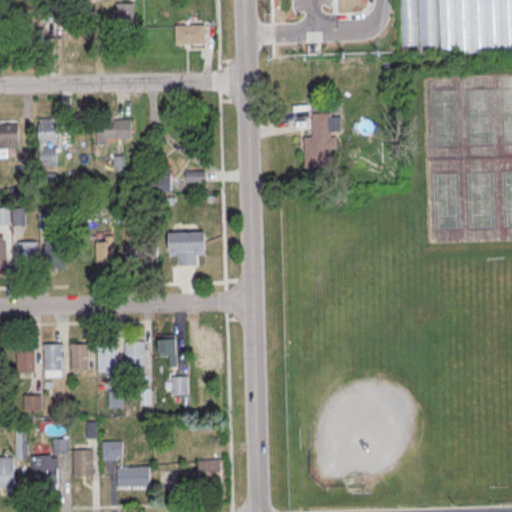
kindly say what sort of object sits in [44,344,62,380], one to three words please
house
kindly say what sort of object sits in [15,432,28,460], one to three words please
shed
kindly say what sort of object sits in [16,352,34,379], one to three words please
house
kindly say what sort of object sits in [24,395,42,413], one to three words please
building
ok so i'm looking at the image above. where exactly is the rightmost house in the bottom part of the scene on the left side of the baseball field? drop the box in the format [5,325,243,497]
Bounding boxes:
[198,460,221,482]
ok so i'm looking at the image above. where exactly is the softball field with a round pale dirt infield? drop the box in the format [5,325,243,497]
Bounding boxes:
[314,376,420,482]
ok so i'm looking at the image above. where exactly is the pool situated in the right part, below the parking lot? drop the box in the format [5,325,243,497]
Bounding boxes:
[356,118,374,136]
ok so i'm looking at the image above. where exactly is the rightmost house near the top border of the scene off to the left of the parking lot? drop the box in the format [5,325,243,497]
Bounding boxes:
[175,25,204,48]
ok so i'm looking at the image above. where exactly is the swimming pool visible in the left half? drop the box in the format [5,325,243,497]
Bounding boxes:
[43,424,66,437]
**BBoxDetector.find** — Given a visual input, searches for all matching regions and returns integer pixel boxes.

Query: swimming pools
[356,118,374,136]
[43,424,66,437]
